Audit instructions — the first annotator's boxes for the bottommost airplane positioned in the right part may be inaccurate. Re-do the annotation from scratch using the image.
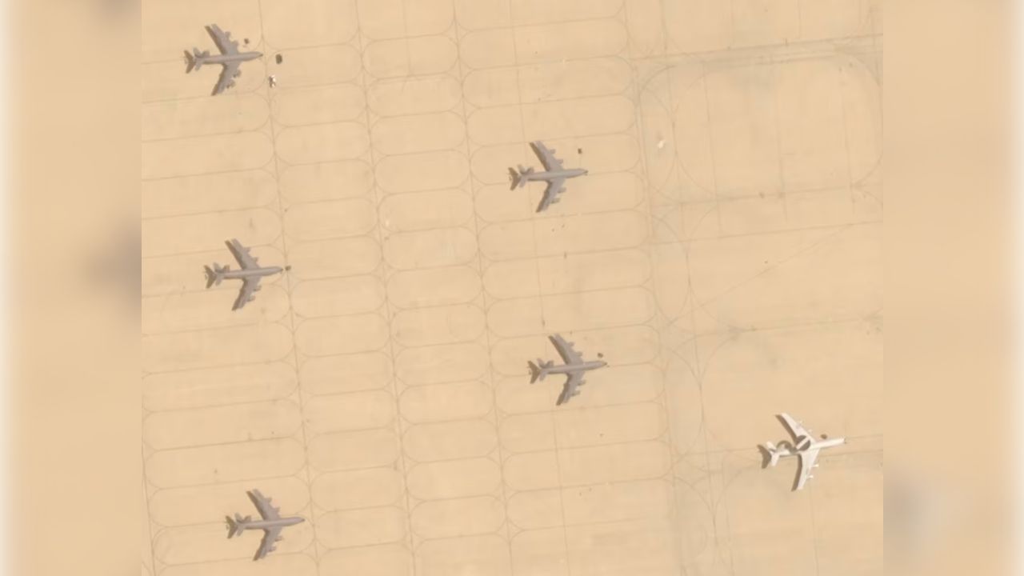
[766,413,845,488]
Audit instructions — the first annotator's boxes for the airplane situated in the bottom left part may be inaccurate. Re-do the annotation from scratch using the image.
[234,489,304,559]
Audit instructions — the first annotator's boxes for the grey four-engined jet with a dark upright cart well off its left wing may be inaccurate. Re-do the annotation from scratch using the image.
[517,140,588,210]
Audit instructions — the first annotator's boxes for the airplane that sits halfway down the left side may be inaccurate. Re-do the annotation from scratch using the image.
[212,238,283,309]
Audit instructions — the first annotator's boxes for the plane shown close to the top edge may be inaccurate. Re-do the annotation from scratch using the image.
[192,23,263,93]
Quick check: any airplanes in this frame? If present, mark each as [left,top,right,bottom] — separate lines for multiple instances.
[537,333,607,403]
[212,238,283,309]
[766,413,845,488]
[192,23,263,93]
[234,489,304,559]
[517,140,588,210]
